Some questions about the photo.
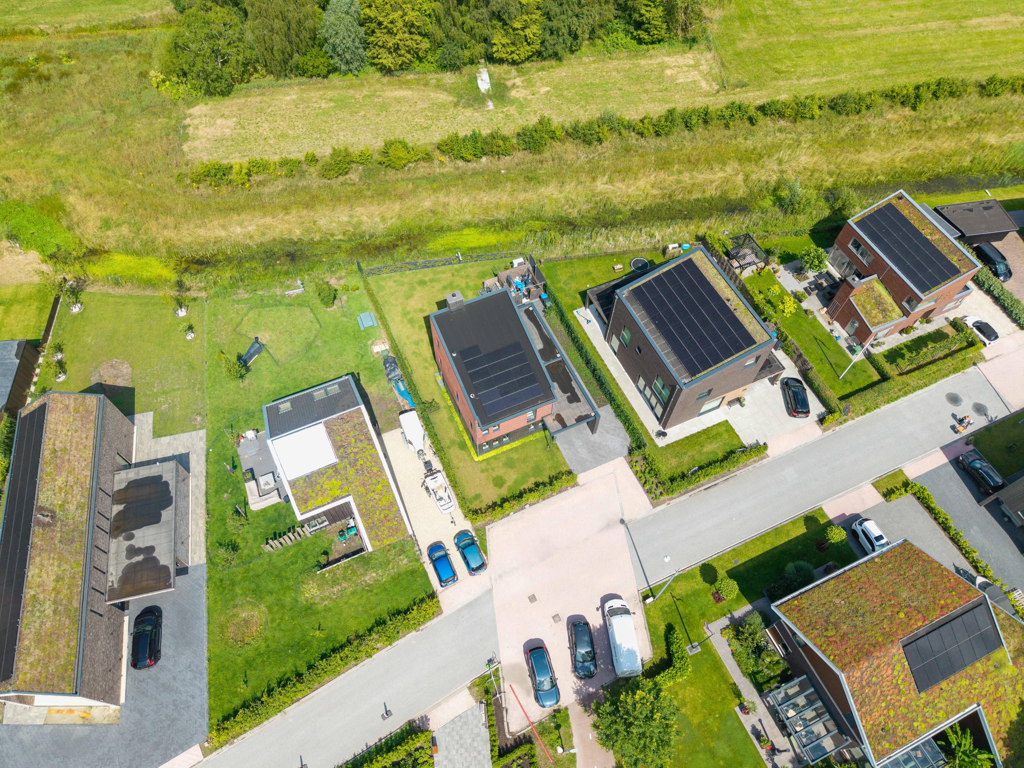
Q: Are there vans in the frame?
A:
Yes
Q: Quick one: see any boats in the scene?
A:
Yes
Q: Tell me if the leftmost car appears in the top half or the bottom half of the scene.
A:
bottom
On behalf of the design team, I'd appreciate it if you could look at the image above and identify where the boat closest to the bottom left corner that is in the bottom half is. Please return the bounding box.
[425,465,456,517]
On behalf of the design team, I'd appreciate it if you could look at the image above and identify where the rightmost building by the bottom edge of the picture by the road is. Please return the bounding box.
[759,538,1024,768]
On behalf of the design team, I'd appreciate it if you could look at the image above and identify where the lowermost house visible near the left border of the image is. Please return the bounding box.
[0,393,193,729]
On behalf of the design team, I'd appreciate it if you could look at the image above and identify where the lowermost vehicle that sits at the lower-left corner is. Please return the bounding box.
[126,609,162,674]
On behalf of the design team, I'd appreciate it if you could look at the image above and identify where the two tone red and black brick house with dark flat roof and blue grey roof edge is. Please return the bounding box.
[430,290,600,456]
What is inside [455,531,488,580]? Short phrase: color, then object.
blue car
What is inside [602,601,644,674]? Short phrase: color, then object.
white van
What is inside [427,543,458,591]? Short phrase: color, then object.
blue car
